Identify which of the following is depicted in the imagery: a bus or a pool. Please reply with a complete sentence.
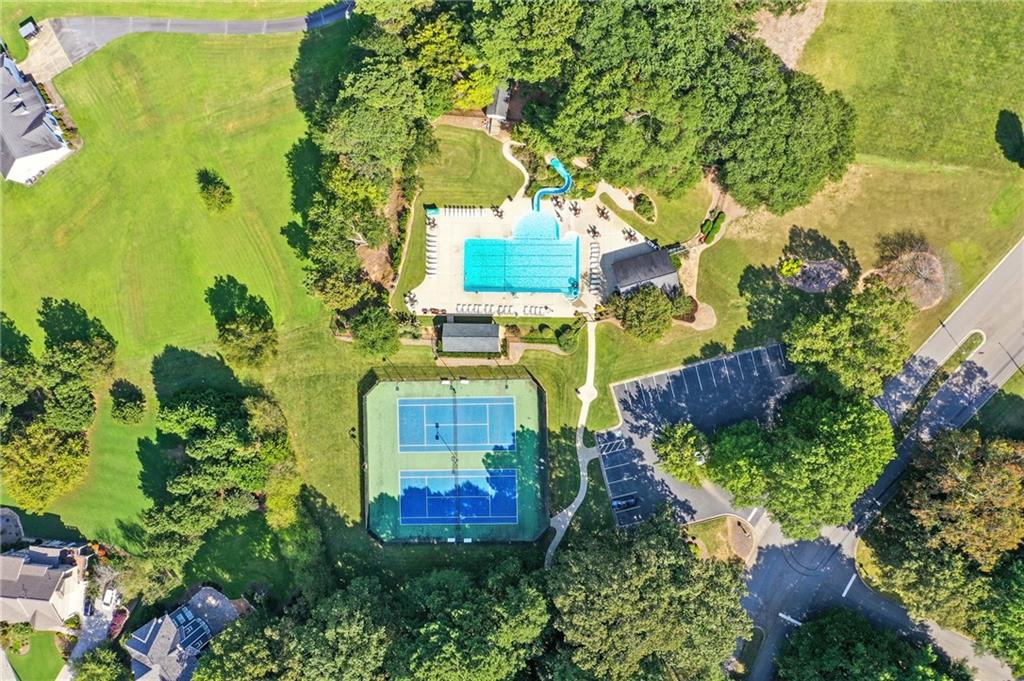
The image shows a pool.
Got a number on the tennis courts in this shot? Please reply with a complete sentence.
In total, 2 tennis courts can be seen.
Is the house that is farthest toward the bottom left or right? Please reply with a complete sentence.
It is on the left.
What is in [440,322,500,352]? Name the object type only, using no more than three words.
building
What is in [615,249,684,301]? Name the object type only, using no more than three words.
building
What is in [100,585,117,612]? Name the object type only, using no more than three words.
car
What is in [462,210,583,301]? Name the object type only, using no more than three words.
swimming pool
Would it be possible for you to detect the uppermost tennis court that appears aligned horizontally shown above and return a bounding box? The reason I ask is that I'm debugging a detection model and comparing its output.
[367,379,547,461]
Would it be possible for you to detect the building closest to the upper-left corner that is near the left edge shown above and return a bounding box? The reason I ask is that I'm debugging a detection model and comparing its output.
[0,34,79,183]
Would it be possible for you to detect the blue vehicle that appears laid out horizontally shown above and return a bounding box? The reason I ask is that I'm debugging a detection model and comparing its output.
[613,496,637,510]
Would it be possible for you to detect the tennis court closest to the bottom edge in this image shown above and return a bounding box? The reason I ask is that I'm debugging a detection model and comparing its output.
[368,461,548,541]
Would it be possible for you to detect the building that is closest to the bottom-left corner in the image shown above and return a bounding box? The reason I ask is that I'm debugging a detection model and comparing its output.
[0,548,80,635]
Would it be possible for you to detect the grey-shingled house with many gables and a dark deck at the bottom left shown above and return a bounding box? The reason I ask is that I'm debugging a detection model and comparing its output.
[123,595,202,681]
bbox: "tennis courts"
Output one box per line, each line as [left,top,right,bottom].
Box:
[367,379,547,461]
[368,461,548,541]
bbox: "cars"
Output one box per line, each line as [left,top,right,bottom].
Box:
[613,496,637,510]
[82,594,95,617]
[100,585,117,612]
